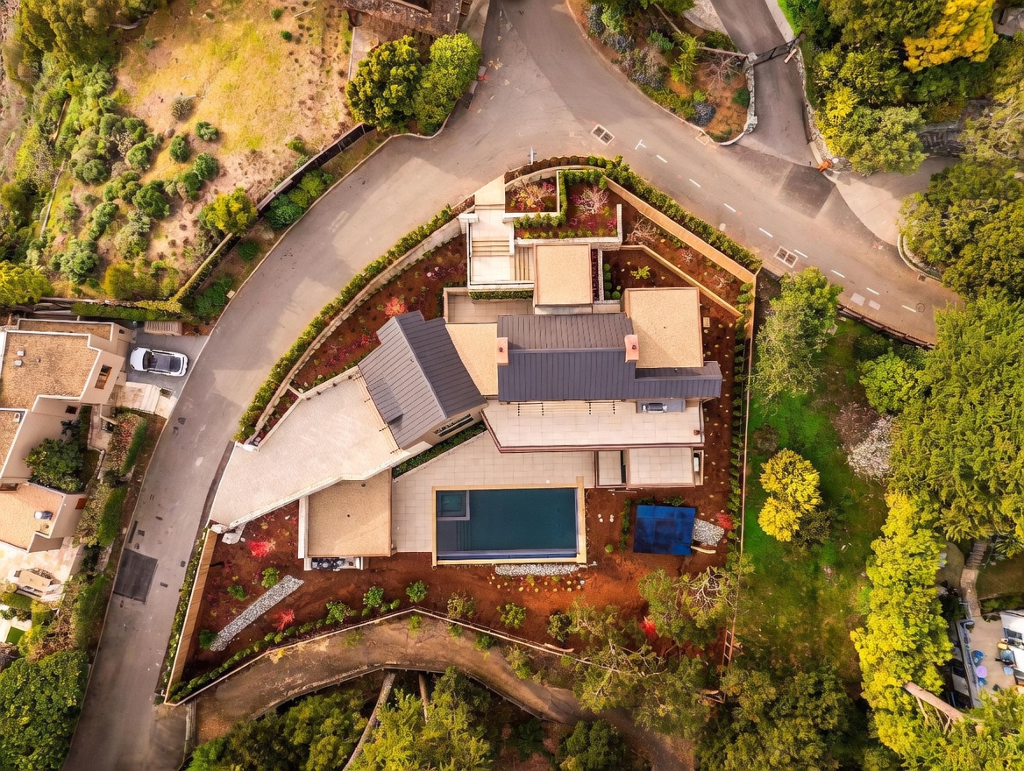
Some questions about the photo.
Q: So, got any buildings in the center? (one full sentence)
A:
Yes, a building is visible in the center.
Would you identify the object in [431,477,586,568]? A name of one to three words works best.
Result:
swimming pool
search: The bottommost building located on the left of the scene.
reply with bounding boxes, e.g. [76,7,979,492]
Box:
[298,468,396,558]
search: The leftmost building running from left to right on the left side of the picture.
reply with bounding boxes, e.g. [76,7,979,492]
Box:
[144,321,187,336]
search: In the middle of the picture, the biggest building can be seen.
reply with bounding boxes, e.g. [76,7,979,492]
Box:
[348,243,723,487]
